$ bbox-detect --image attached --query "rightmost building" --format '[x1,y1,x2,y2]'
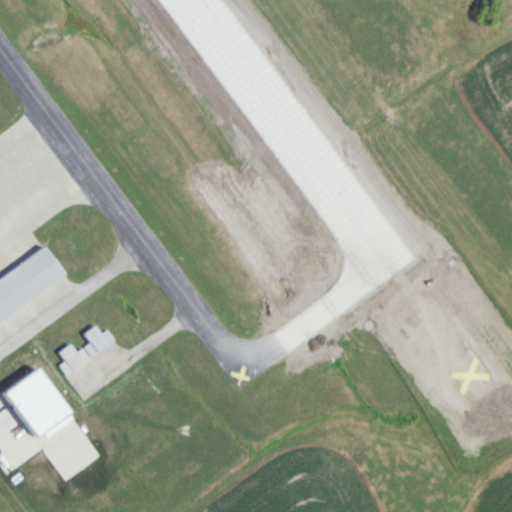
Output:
[84,326,114,357]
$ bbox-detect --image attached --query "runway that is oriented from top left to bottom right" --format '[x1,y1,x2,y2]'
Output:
[157,0,416,352]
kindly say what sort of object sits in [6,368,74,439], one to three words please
hangar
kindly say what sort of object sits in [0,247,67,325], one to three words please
hangar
